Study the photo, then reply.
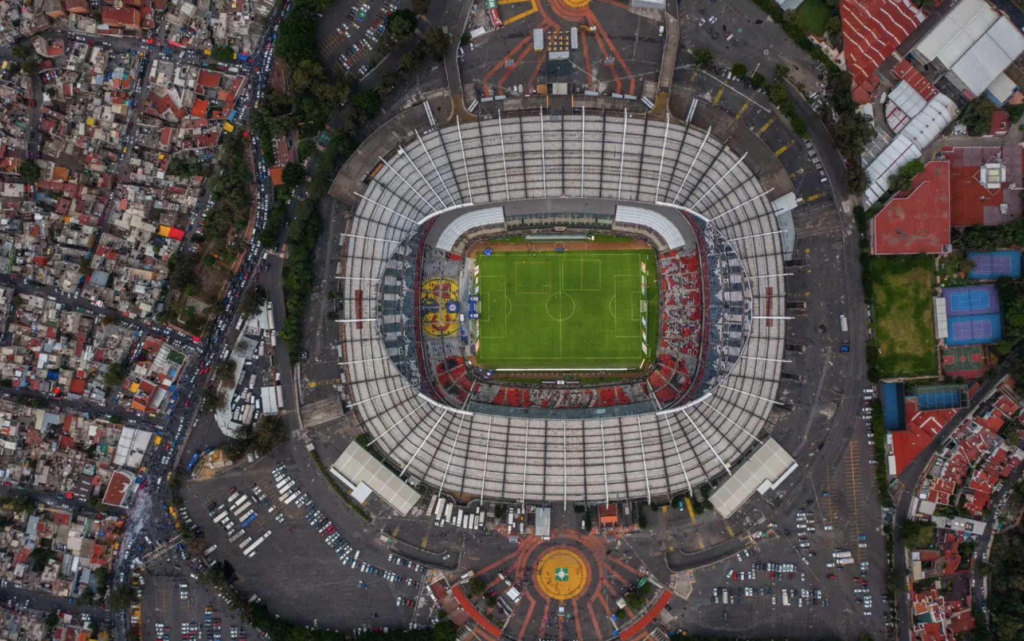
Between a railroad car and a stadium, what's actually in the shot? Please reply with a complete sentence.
There is a stadium in the scene.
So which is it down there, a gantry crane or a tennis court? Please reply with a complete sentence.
Of the two, only a tennis court appears.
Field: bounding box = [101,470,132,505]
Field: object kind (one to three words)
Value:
house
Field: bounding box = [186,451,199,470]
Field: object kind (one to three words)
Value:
vehicle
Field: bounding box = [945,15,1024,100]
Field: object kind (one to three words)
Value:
building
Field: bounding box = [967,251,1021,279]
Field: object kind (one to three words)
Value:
tennis court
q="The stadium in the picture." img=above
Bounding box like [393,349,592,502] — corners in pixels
[330,92,795,511]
